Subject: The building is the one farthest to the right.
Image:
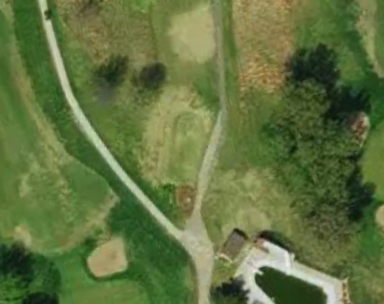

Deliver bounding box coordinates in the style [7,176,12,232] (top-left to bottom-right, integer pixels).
[258,241,293,268]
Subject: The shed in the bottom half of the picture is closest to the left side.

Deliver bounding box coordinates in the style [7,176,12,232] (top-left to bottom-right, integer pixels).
[222,230,249,260]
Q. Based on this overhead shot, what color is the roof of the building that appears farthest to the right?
white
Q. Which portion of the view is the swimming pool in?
bottom right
